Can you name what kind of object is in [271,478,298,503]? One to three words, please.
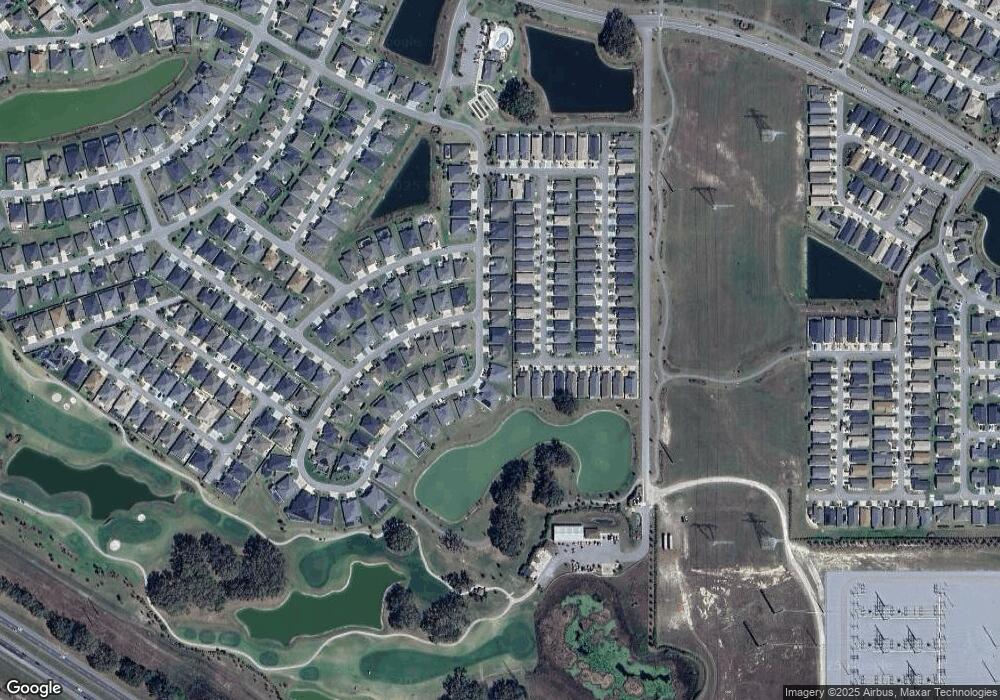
house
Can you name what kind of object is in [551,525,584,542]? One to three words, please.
shed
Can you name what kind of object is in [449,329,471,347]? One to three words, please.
house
